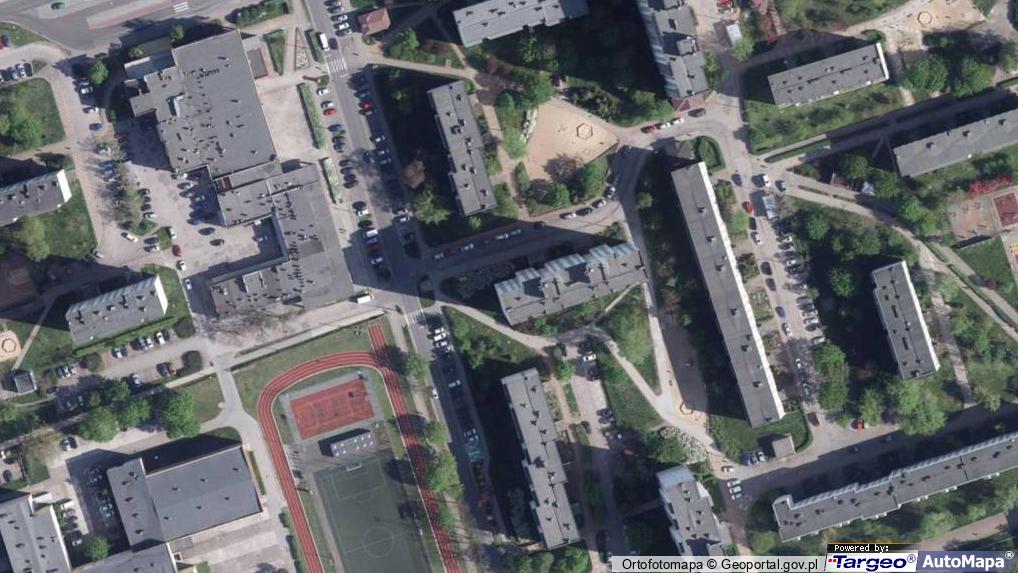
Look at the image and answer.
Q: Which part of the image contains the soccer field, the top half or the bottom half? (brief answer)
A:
bottom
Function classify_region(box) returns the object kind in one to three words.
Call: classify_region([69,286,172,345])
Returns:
building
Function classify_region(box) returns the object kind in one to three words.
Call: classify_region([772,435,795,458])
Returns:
shed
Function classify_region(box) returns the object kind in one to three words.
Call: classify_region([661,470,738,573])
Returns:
building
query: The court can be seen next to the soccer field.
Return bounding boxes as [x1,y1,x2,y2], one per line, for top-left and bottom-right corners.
[279,371,384,446]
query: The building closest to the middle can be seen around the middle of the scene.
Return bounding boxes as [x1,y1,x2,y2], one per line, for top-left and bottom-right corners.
[498,242,651,325]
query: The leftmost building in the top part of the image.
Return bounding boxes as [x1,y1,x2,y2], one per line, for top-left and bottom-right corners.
[0,170,73,222]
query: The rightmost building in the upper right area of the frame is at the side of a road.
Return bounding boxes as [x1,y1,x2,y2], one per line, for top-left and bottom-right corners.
[893,105,1018,176]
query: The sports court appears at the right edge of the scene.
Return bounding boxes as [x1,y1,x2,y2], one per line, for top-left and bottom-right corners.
[992,191,1018,229]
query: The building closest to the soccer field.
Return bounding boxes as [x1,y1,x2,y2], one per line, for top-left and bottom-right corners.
[330,431,375,457]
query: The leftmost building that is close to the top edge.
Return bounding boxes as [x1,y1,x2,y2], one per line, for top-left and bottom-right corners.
[130,28,280,177]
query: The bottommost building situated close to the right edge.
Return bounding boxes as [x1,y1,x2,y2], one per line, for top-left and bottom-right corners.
[774,432,1018,541]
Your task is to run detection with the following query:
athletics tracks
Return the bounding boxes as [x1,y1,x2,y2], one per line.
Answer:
[257,323,460,573]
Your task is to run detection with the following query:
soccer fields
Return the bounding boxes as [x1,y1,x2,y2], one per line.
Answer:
[315,452,425,573]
